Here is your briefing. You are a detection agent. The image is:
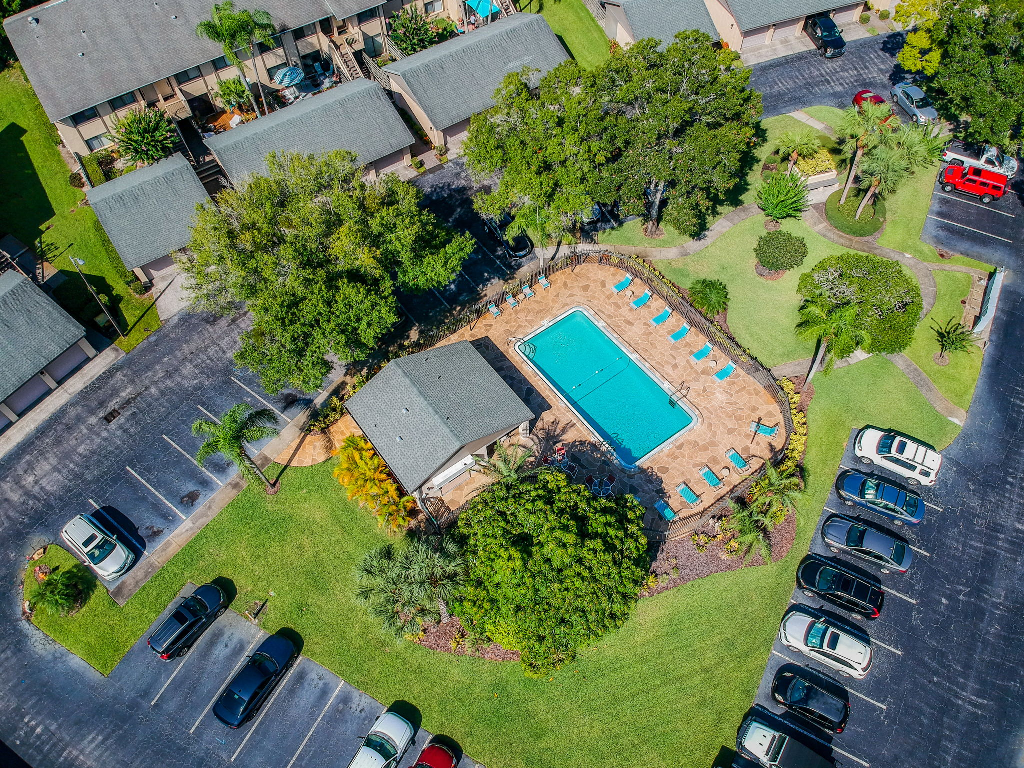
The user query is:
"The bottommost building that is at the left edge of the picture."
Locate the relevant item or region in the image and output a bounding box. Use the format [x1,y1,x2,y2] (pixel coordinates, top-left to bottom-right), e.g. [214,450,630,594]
[0,273,96,424]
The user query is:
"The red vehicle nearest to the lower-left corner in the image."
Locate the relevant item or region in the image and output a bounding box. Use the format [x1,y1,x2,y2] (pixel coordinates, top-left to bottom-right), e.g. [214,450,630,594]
[404,739,457,768]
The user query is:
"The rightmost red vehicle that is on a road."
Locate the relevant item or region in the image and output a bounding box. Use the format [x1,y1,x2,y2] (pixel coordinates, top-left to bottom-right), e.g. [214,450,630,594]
[939,166,1010,204]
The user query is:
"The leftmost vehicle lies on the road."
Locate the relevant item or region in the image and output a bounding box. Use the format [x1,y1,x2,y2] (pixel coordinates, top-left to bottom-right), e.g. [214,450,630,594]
[67,518,137,583]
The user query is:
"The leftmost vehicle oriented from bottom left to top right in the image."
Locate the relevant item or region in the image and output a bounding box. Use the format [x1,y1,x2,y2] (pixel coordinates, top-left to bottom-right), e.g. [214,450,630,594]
[148,583,233,666]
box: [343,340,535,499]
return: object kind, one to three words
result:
building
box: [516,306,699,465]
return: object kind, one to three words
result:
swimming pool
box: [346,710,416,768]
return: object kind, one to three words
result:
car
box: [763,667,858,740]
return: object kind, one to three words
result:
car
